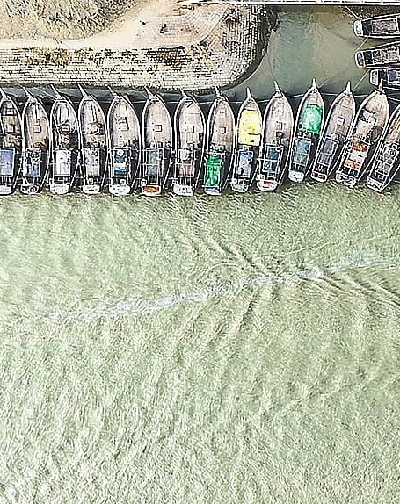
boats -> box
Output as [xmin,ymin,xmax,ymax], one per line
[0,88,23,196]
[19,83,49,196]
[257,80,293,192]
[48,85,78,196]
[140,86,172,198]
[311,81,354,181]
[367,109,400,192]
[172,90,206,198]
[77,82,107,196]
[288,78,324,182]
[337,79,387,187]
[105,86,138,197]
[234,88,263,194]
[203,87,236,197]
[372,66,400,91]
[355,14,400,40]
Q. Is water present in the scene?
Yes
